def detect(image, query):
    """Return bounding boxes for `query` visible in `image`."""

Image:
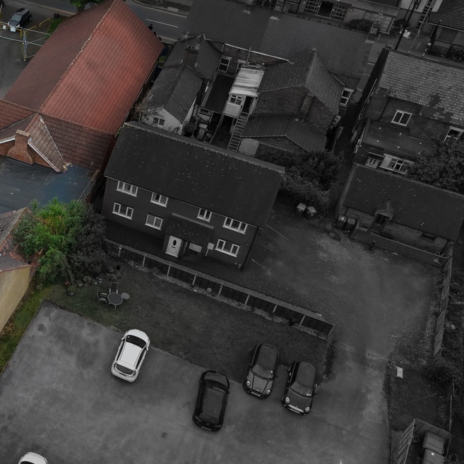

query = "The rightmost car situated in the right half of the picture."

[280,360,318,415]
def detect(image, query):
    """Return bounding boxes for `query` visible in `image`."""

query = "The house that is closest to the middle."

[98,117,285,272]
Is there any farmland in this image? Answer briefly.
No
